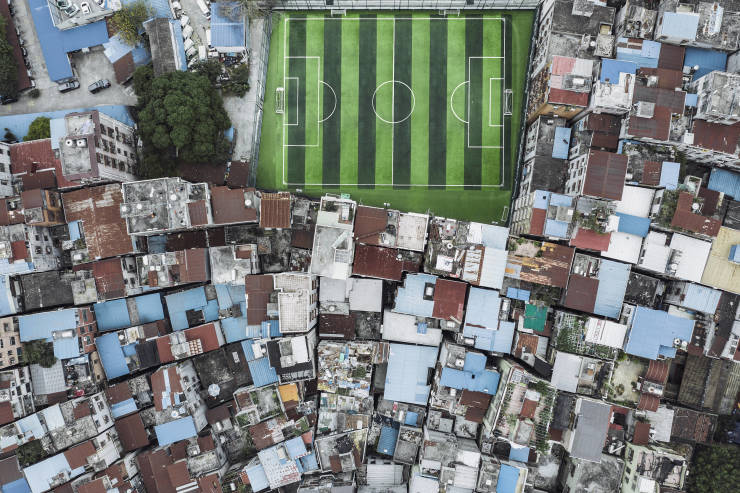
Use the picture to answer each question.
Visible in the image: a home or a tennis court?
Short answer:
home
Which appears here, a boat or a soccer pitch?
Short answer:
soccer pitch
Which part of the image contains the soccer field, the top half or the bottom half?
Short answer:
top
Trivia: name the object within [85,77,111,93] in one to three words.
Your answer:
car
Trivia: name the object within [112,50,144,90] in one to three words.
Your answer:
shed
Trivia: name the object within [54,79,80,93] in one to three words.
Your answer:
vehicle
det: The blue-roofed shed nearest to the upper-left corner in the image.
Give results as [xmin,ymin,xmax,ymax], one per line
[28,0,108,83]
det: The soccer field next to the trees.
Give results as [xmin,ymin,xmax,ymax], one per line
[252,9,539,226]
